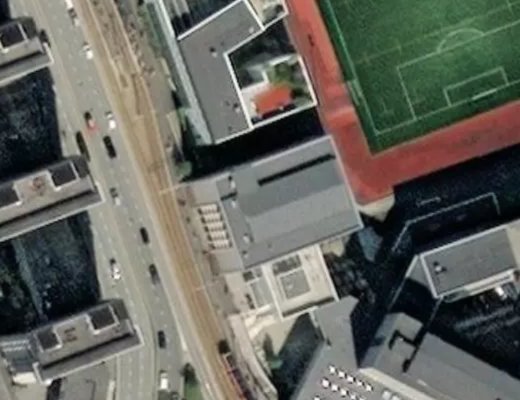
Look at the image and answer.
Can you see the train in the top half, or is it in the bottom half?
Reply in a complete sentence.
The train sits in the bottom half of the picture.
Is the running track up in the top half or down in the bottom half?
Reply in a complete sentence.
You can find the running track in the top half.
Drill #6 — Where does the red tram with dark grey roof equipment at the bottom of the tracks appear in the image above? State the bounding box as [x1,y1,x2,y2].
[221,353,249,400]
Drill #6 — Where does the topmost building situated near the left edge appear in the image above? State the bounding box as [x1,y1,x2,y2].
[0,19,53,84]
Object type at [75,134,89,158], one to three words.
vehicle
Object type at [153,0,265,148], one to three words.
building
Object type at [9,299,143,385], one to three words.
building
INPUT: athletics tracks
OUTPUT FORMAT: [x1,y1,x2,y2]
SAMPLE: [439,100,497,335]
[287,0,520,201]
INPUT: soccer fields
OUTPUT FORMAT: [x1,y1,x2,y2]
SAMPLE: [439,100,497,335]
[319,0,520,155]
